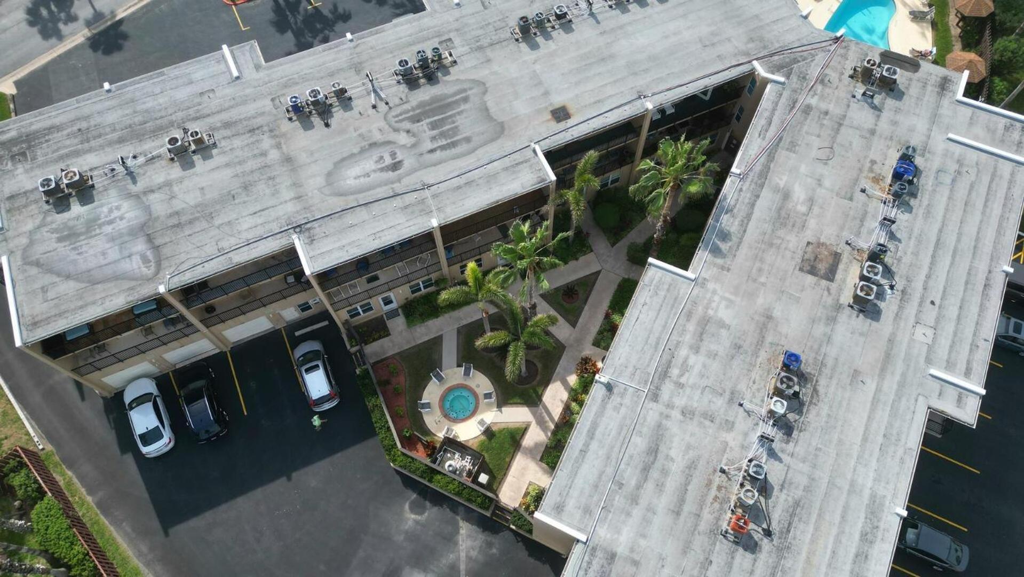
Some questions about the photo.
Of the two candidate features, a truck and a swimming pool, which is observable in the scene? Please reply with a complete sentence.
Looking from above, you can make out a swimming pool.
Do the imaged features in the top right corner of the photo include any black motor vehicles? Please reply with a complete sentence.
No, looking in the top right corner of the photo, there is no black motor vehicle.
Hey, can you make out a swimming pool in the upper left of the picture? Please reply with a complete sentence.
No, no swimming pool appears in the upper left of the picture.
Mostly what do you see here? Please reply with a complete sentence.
Most of the picture is covered by buildings.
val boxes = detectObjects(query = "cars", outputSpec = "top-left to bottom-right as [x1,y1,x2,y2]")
[898,510,971,569]
[178,364,226,447]
[994,311,1024,356]
[127,377,177,462]
[295,337,340,417]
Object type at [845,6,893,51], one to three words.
swimming pool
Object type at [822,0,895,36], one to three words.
swimming pool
